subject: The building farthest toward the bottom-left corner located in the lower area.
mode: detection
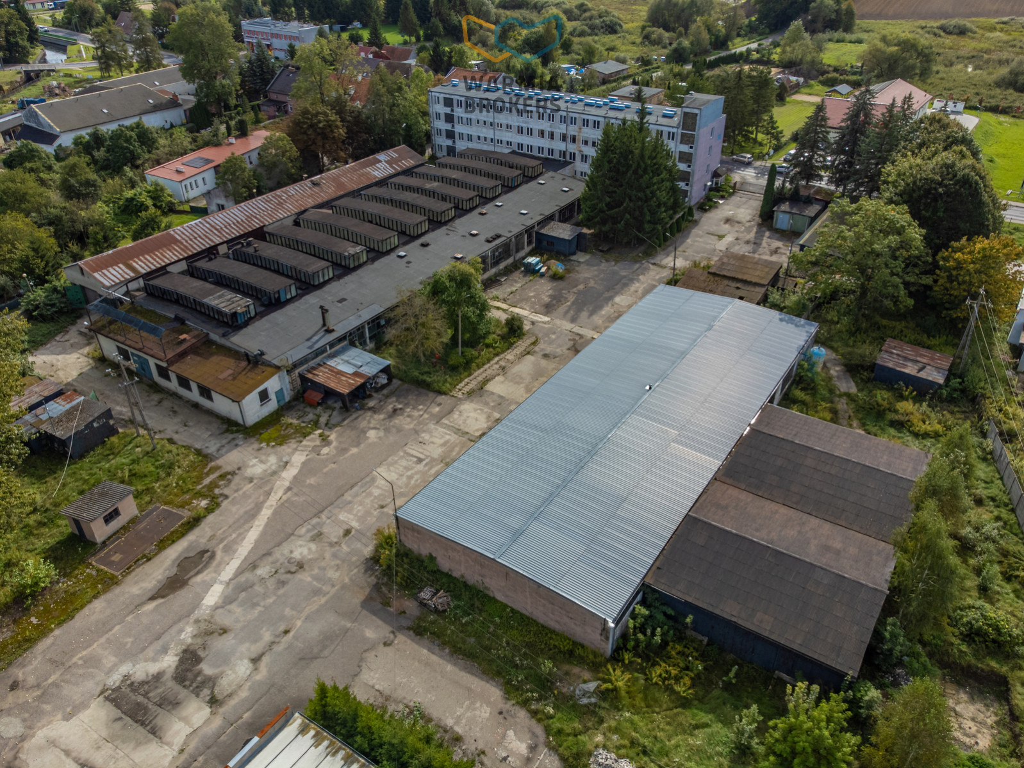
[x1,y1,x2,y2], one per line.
[51,474,138,544]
